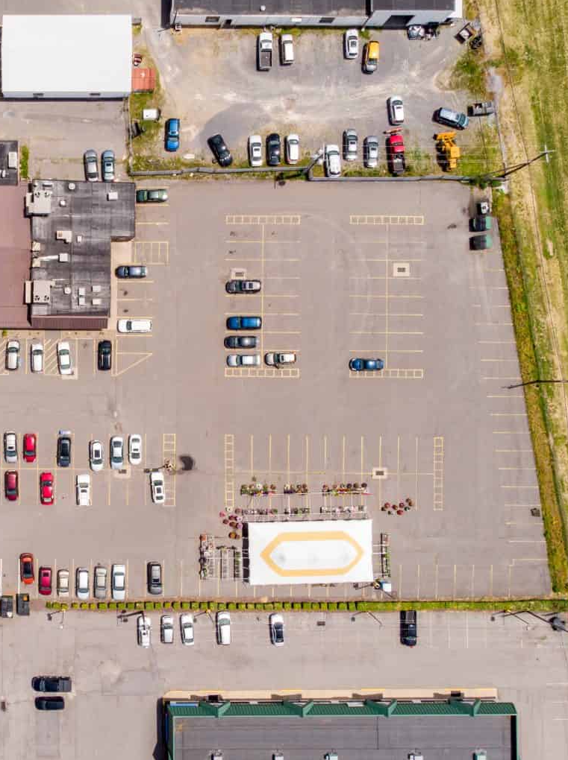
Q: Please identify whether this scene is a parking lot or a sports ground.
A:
parking lot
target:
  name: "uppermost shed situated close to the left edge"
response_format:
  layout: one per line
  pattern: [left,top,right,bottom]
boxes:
[2,15,132,98]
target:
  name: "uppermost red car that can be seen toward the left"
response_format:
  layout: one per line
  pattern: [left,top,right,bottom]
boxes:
[22,432,36,462]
